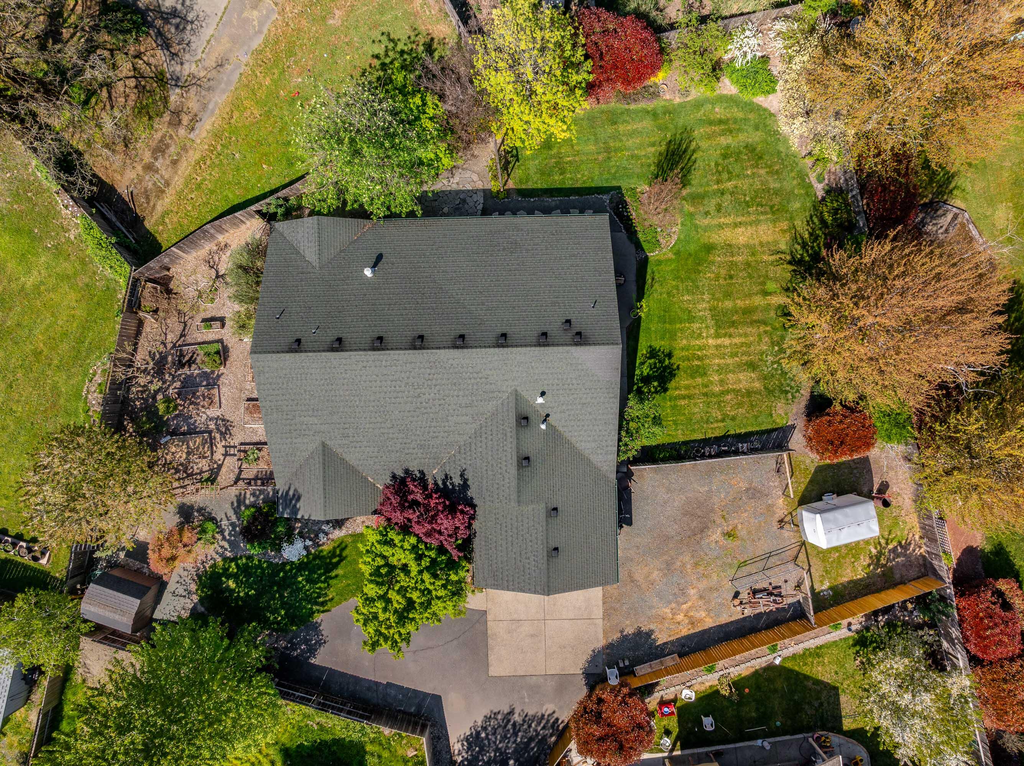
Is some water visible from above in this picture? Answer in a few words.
No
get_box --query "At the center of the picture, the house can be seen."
[250,211,622,596]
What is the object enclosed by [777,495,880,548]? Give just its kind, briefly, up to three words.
trailer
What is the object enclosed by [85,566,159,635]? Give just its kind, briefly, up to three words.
shed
